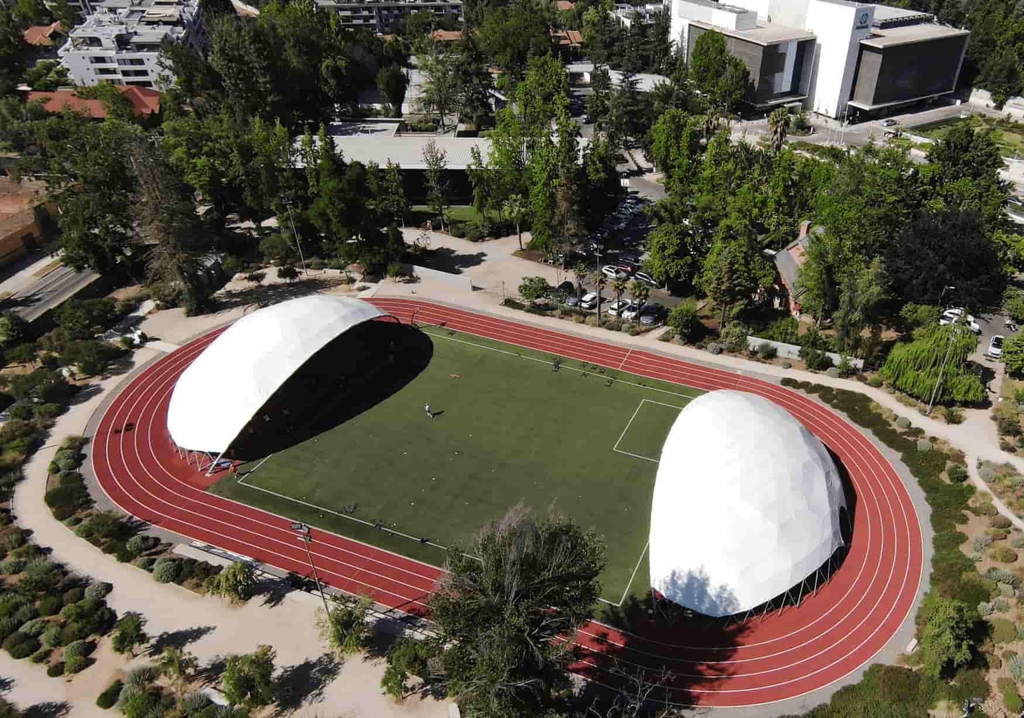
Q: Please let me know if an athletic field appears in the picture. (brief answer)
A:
Yes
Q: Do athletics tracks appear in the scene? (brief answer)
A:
Yes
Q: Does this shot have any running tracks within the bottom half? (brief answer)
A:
Yes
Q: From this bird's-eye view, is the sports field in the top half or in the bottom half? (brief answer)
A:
bottom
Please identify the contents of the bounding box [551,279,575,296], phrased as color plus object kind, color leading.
black car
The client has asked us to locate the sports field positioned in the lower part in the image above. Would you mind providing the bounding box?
[239,331,688,606]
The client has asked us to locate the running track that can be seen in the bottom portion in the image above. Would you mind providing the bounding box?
[91,297,919,706]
